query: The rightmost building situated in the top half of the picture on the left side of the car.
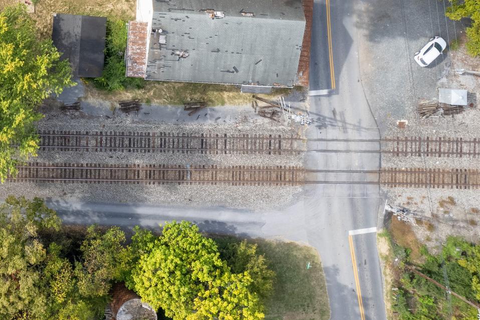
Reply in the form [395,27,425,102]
[120,0,315,93]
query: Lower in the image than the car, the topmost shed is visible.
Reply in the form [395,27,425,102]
[428,87,467,105]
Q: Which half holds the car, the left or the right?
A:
right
